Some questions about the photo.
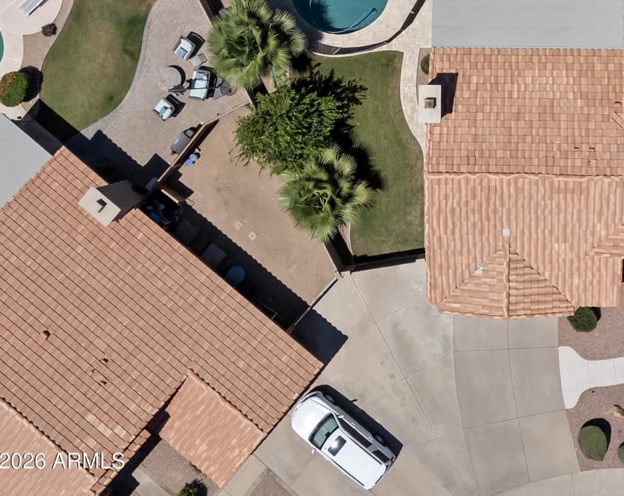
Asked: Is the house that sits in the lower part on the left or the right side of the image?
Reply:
left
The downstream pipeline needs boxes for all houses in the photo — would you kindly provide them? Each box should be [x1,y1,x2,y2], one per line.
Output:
[419,0,624,318]
[0,106,323,496]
